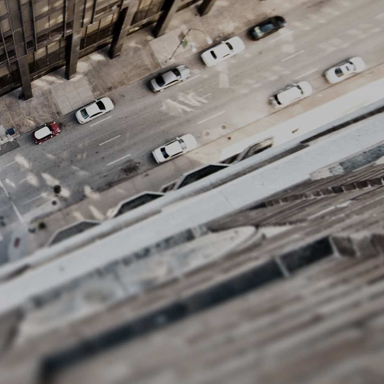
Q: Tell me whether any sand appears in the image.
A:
No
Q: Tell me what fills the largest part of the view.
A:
buildings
